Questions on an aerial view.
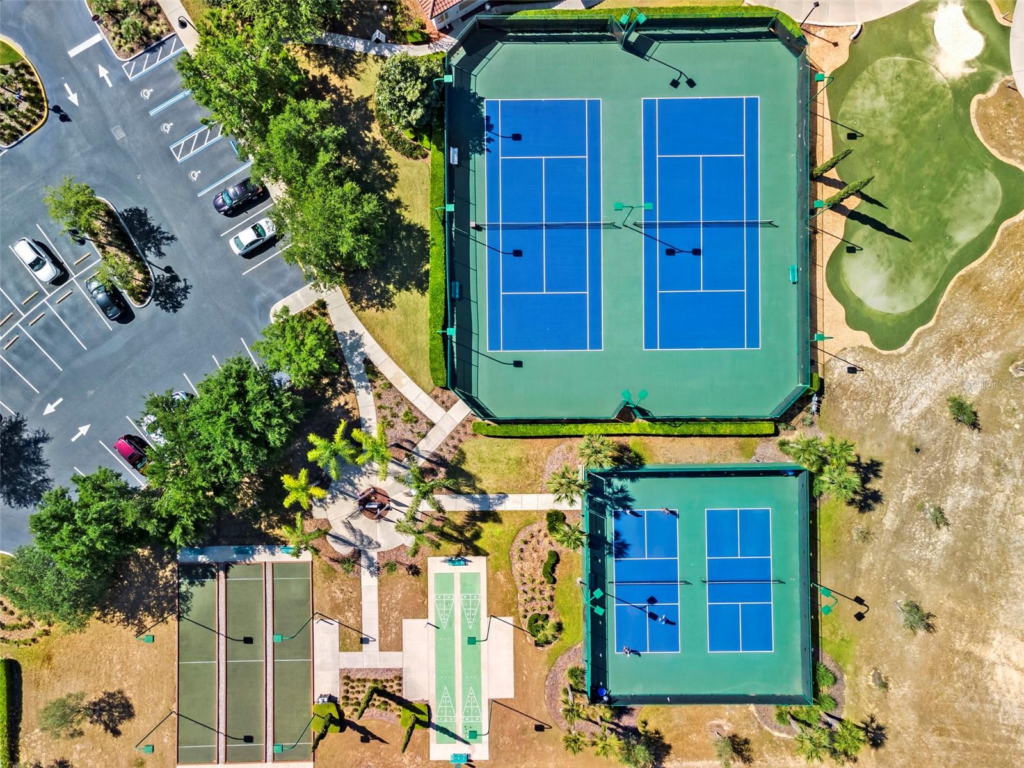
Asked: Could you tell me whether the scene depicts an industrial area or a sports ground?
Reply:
sports ground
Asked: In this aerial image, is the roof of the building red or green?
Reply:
red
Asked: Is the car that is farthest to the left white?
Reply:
Yes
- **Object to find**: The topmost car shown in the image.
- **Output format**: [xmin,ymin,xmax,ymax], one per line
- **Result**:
[211,174,262,212]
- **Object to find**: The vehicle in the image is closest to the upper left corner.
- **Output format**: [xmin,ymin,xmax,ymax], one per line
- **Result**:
[8,235,55,283]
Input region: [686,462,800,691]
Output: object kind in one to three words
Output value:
sports court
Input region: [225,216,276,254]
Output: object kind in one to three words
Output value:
car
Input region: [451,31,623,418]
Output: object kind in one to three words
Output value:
tennis court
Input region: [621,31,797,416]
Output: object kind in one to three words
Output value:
tennis court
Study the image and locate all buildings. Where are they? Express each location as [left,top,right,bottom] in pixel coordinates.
[418,0,492,30]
